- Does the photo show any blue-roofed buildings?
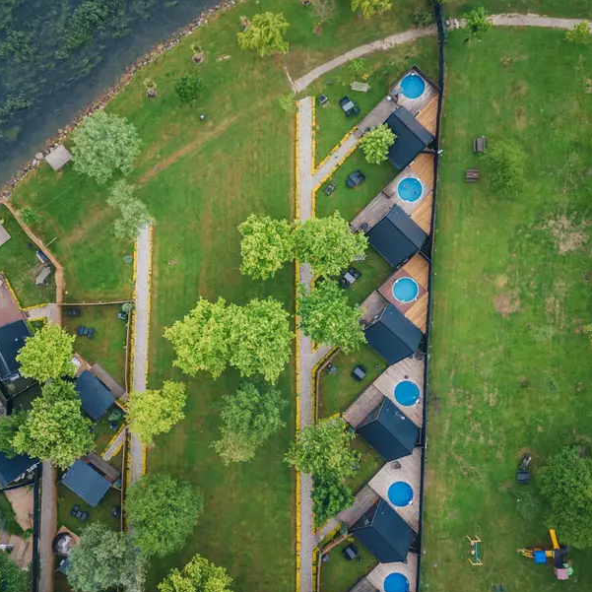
Yes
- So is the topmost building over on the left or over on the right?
right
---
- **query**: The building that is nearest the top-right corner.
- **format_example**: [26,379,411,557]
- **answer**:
[378,106,435,169]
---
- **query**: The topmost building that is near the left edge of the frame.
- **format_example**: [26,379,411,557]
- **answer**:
[0,319,30,380]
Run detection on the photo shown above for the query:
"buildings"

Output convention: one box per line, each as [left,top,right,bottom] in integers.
[66,370,117,420]
[350,499,416,563]
[378,106,435,169]
[62,456,112,508]
[359,302,423,365]
[0,319,30,380]
[0,450,38,487]
[55,557,90,592]
[354,398,420,461]
[366,205,428,267]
